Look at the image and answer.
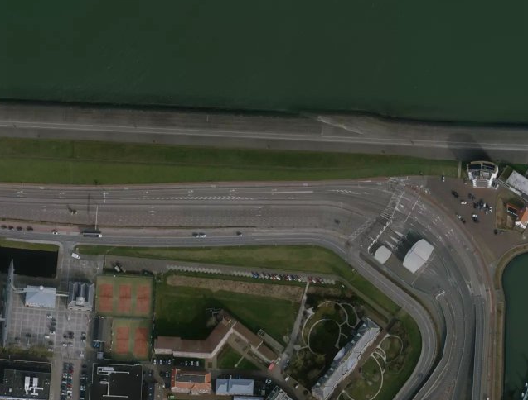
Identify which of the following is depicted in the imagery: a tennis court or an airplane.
tennis court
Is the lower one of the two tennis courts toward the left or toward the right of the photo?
left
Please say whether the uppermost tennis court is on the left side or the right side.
left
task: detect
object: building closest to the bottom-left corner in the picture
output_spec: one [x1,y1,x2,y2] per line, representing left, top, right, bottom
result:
[0,359,52,400]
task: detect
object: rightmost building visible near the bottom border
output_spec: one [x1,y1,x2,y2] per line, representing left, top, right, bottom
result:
[312,318,381,400]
